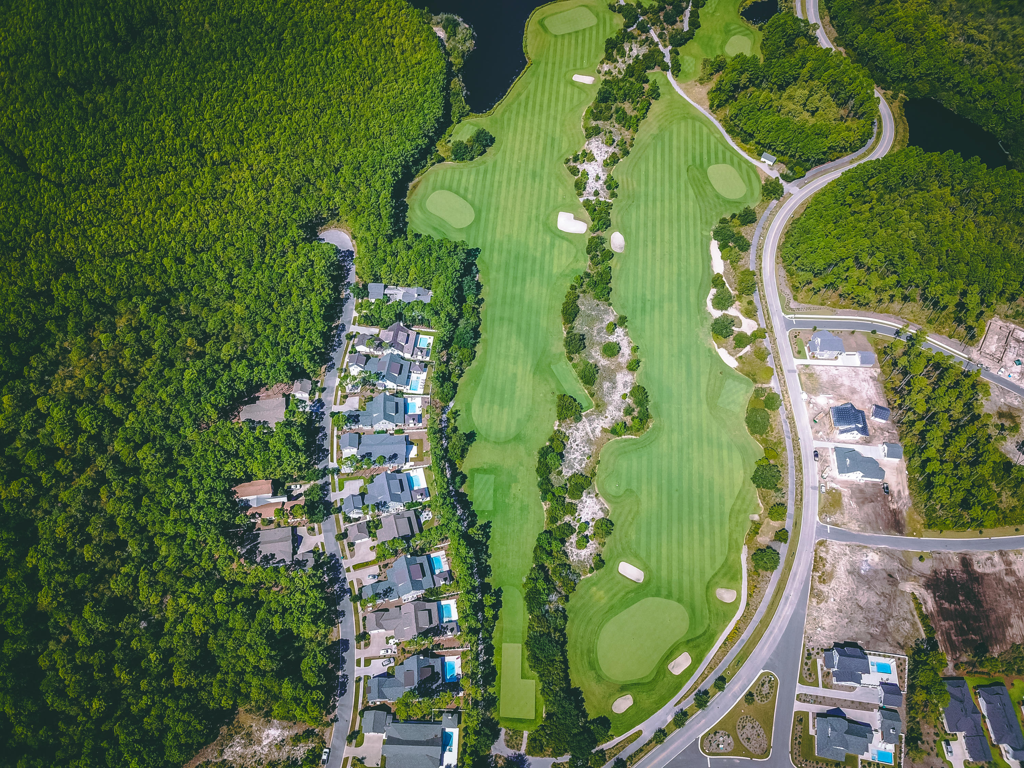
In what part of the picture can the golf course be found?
center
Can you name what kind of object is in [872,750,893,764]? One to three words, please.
swimming pool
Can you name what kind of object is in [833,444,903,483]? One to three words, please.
house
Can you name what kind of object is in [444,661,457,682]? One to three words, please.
swimming pool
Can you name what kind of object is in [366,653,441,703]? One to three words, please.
house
